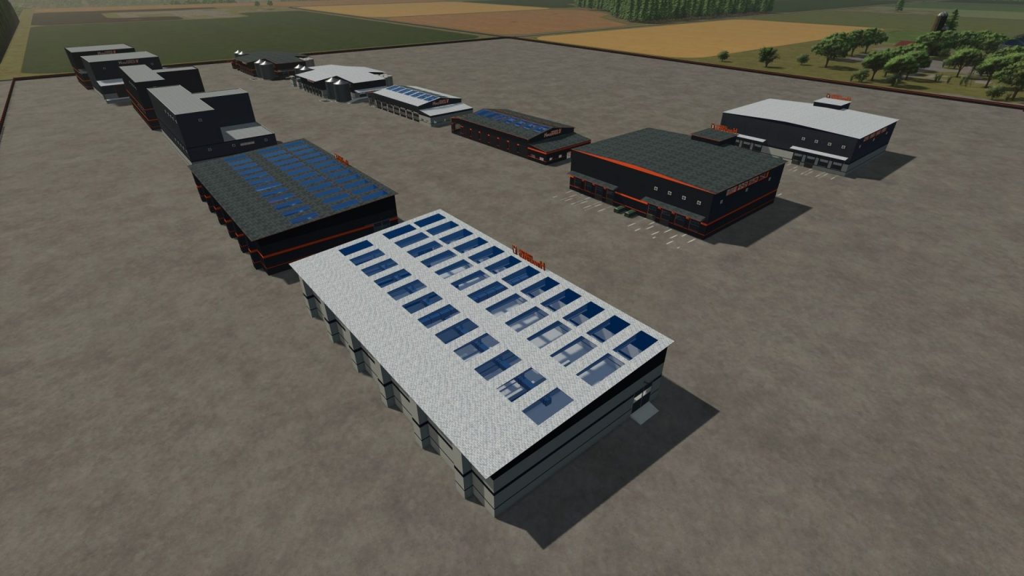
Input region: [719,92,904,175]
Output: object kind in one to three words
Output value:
building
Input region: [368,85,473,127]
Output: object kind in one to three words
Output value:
shed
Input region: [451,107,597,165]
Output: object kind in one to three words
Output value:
shed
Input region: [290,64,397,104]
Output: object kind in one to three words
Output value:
building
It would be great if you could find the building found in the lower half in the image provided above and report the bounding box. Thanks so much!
[287,210,675,517]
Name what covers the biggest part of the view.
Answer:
paved ground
